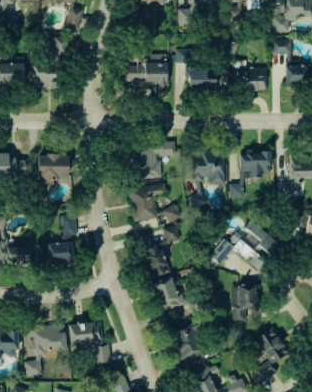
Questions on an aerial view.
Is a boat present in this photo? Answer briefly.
No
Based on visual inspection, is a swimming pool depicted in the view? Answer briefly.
Yes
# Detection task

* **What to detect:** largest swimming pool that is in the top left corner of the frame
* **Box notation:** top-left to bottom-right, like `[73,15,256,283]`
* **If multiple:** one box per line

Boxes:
[44,8,64,27]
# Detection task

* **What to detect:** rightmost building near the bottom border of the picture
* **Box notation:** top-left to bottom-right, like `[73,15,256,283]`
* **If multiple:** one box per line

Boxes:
[256,327,286,378]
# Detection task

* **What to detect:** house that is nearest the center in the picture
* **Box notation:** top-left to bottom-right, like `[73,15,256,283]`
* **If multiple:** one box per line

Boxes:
[129,180,180,222]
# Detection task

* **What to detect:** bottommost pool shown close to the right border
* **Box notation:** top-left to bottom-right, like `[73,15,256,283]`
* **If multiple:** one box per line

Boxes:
[291,38,312,60]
